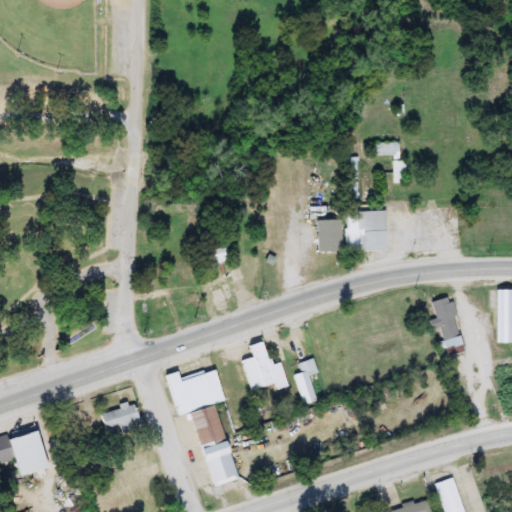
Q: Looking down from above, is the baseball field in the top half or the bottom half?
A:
top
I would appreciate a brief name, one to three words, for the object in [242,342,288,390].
building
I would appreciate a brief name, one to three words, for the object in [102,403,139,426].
house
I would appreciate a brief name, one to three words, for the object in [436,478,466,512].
shed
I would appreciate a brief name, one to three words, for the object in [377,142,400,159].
shed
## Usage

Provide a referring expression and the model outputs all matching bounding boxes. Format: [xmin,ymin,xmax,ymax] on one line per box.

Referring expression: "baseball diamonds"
[0,0,98,76]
